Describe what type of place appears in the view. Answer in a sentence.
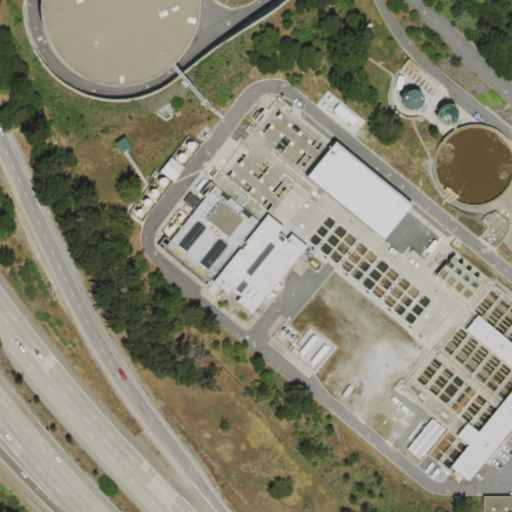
This looks like an industrial area.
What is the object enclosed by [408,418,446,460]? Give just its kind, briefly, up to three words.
shed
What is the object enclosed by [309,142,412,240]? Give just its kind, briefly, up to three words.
building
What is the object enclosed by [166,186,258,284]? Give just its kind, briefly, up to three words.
building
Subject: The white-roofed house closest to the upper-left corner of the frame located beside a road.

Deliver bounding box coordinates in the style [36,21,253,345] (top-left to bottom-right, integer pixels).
[160,157,184,182]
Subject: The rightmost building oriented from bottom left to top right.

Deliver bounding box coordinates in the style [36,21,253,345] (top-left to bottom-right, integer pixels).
[453,392,512,482]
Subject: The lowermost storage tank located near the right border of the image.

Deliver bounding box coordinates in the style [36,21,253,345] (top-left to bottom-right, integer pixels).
[433,123,512,207]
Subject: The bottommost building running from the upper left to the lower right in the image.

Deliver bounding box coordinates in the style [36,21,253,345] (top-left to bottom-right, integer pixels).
[467,316,512,366]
